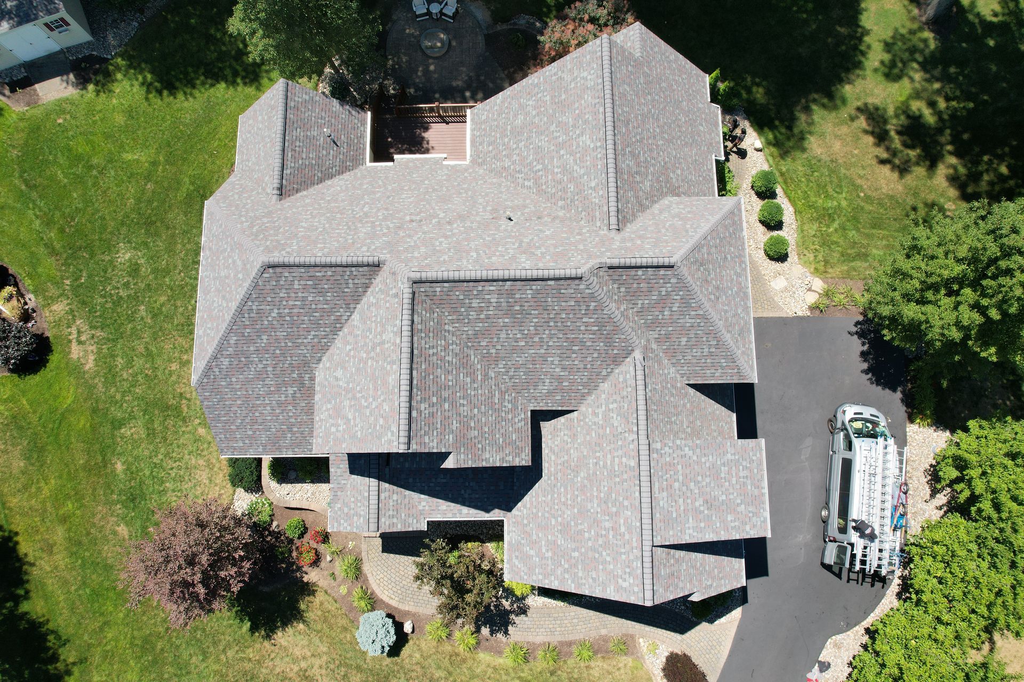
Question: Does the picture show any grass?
Yes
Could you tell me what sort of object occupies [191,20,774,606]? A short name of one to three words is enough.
house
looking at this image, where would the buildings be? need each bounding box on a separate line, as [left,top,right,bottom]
[0,0,95,71]
[191,20,774,606]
